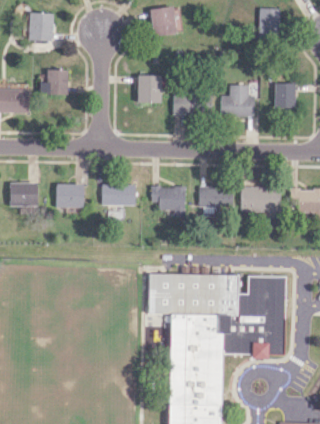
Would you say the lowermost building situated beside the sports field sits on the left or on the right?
right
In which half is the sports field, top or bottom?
bottom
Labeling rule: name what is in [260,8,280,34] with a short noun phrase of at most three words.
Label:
house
